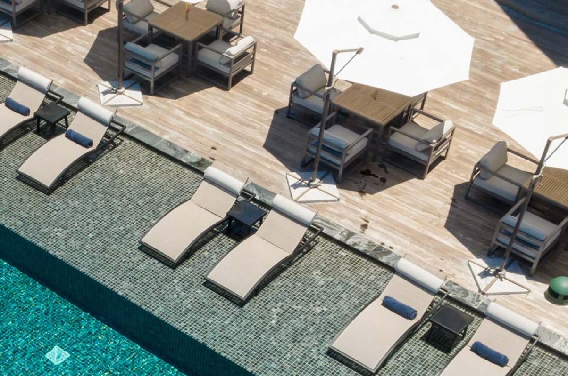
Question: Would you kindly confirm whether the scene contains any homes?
No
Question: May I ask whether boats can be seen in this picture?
No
